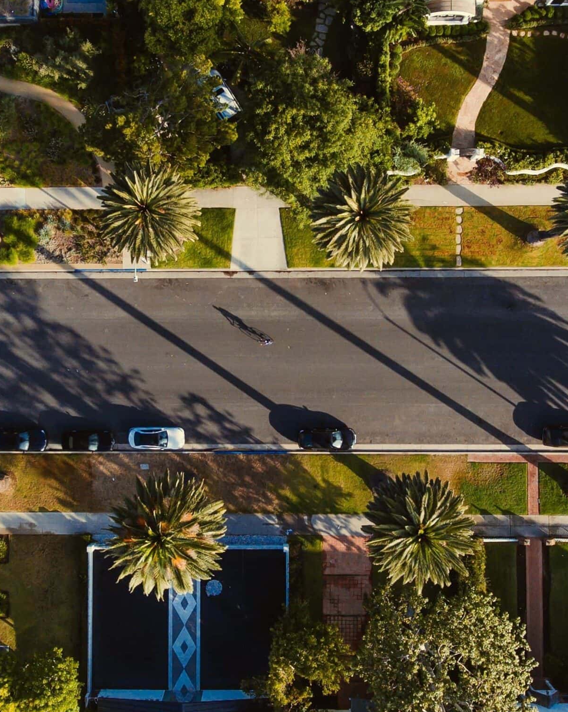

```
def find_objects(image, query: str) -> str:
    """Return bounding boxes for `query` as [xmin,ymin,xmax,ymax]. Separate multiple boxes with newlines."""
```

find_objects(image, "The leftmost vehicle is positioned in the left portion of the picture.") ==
[0,426,47,455]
